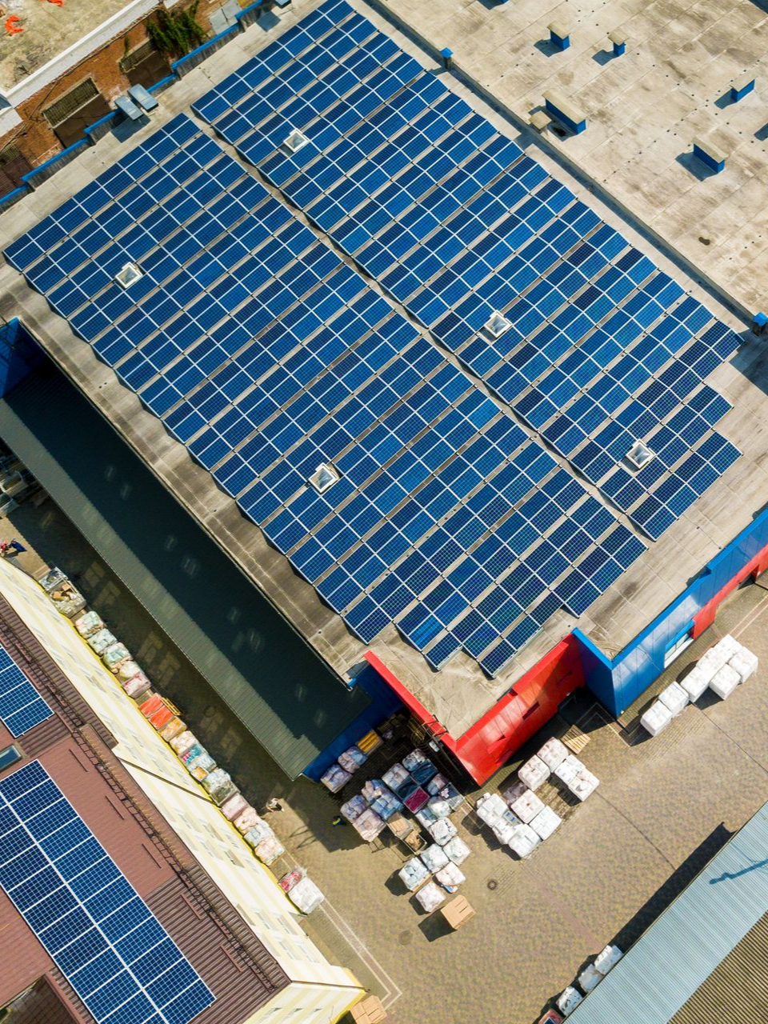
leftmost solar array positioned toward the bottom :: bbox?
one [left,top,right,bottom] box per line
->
[0,640,52,736]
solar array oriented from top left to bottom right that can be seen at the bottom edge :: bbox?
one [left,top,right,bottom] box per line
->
[0,759,212,1024]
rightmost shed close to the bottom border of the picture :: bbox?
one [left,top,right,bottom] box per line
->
[560,797,768,1024]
